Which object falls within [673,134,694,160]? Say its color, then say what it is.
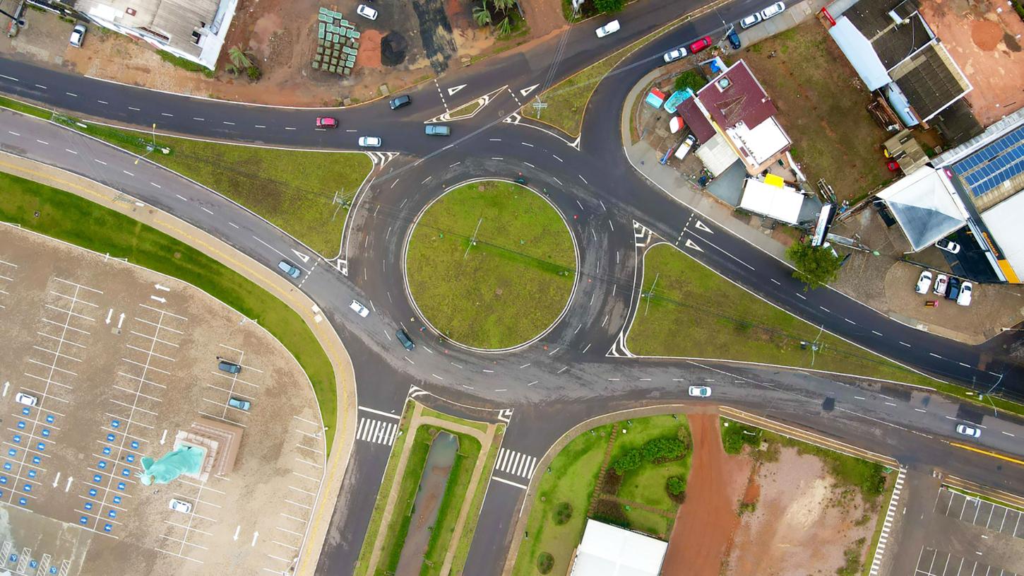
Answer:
white vehicle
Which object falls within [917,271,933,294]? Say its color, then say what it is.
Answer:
white car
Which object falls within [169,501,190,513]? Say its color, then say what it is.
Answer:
white vehicle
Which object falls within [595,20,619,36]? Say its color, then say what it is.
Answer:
white car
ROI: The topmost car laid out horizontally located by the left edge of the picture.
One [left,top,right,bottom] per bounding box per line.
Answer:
[13,394,36,406]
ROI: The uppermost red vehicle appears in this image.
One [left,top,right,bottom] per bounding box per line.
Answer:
[689,35,714,52]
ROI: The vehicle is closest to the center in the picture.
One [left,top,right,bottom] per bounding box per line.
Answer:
[395,328,413,350]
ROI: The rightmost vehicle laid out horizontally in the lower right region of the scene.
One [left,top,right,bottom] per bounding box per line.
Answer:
[958,424,982,437]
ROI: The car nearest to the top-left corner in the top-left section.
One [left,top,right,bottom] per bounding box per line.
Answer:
[67,22,84,47]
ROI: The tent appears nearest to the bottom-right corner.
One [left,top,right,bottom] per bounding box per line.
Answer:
[572,519,668,576]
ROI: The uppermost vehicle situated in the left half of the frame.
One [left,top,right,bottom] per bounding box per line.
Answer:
[355,3,378,19]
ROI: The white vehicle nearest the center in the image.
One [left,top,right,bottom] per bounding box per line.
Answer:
[347,300,369,316]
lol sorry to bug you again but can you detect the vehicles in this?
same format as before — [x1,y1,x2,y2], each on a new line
[958,424,982,437]
[595,20,619,36]
[276,260,299,277]
[663,47,688,61]
[425,124,449,135]
[169,501,190,513]
[347,300,369,316]
[689,35,714,52]
[959,281,975,306]
[740,11,762,27]
[689,386,711,397]
[67,22,84,47]
[673,134,694,160]
[880,203,900,230]
[395,328,413,350]
[315,116,336,127]
[886,160,899,169]
[13,394,36,406]
[728,27,741,49]
[355,3,378,19]
[760,0,787,18]
[358,135,379,146]
[937,238,962,253]
[388,94,410,108]
[935,273,948,296]
[917,271,933,294]
[949,277,961,301]
[216,361,239,373]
